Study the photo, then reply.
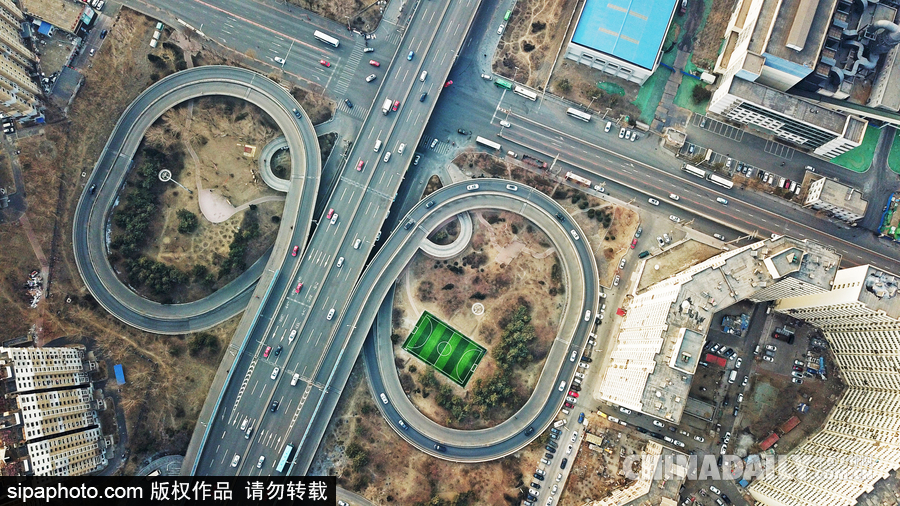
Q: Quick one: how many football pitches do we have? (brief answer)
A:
one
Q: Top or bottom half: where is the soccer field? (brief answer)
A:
bottom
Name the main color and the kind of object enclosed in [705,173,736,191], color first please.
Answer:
white vehicle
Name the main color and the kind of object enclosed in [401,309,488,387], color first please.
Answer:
green soccer field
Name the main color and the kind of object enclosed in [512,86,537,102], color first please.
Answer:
white vehicle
